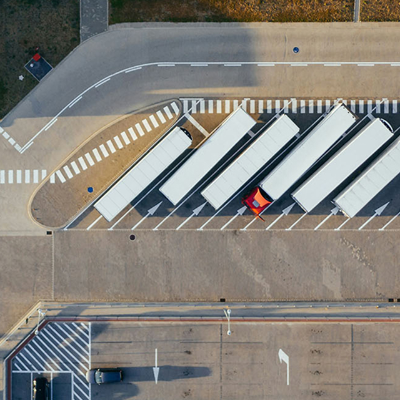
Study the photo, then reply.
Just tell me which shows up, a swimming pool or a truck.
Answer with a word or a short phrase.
truck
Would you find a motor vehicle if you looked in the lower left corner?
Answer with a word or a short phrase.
Yes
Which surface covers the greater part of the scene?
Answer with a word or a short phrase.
paved ground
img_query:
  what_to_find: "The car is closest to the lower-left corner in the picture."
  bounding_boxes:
[31,378,49,400]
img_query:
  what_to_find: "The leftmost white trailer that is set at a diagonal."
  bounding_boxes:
[92,126,192,223]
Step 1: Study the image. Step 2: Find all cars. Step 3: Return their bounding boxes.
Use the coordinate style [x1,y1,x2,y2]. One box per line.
[86,366,123,386]
[31,378,49,400]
